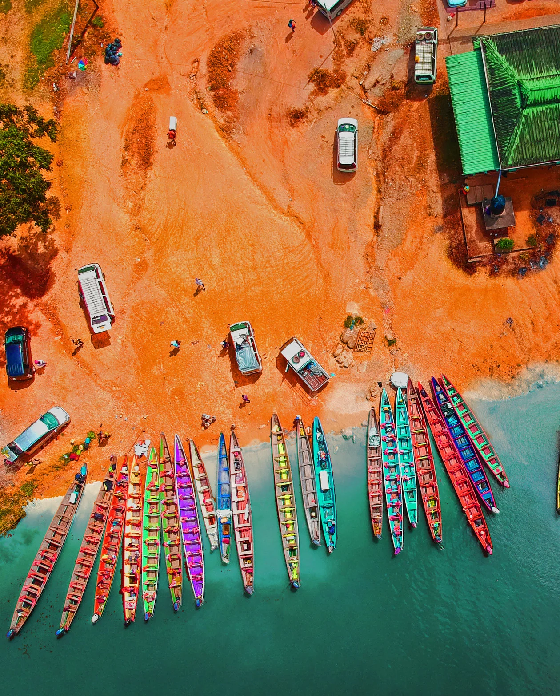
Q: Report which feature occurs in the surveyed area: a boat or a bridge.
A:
boat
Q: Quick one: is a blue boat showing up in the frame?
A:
Yes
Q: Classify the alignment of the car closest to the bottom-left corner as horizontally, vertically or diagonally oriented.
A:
diagonally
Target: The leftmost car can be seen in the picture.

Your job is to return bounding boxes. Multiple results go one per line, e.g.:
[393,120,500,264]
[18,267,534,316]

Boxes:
[2,319,38,379]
